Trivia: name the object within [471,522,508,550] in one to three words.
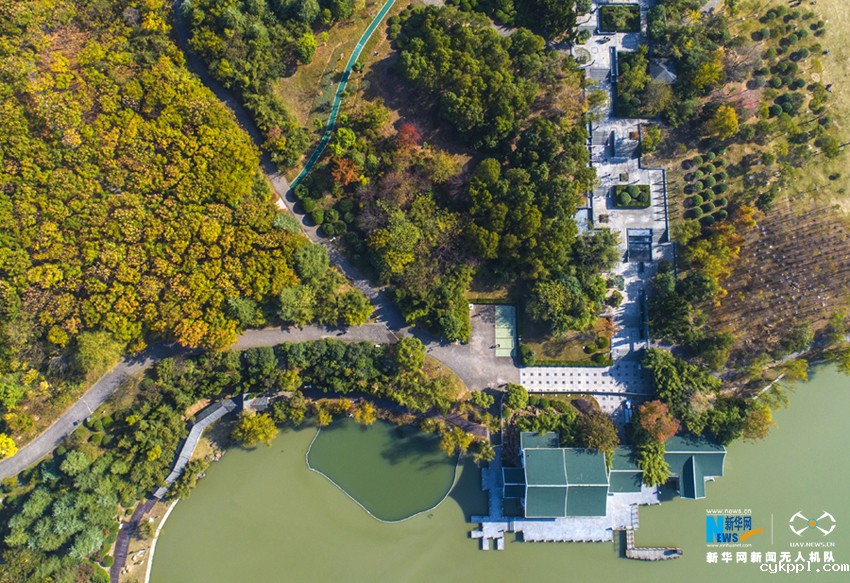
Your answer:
pier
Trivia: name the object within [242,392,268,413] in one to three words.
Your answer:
house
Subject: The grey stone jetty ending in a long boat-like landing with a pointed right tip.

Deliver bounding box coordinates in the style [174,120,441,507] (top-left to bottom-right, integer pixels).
[626,529,682,560]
